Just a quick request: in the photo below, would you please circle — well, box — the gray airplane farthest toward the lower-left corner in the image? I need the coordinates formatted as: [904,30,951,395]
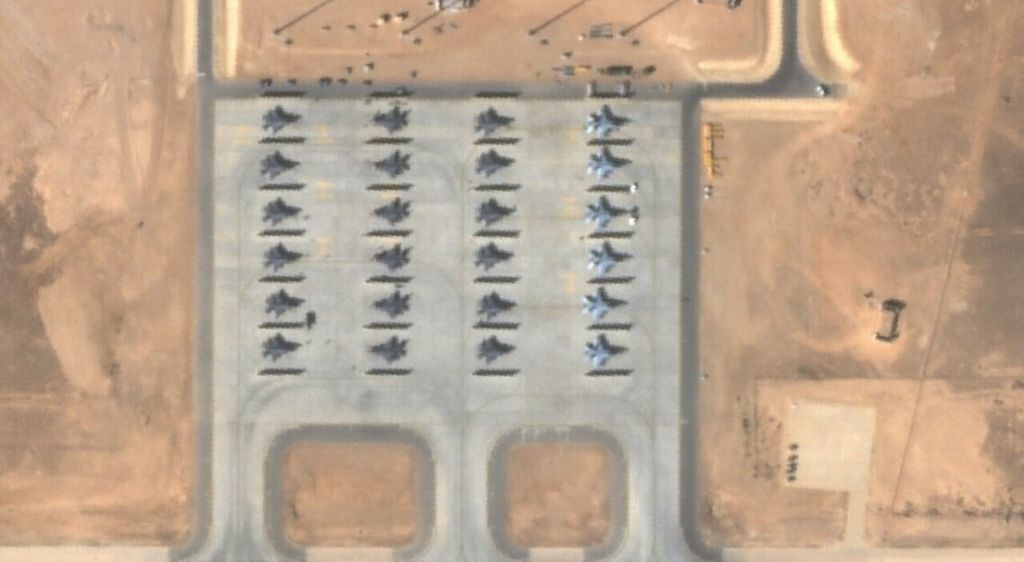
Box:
[263,336,298,360]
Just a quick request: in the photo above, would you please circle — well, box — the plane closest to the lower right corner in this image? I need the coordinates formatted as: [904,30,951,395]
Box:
[584,340,623,366]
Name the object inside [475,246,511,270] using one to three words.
airplane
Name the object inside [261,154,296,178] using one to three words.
airplane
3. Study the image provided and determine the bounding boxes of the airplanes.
[586,151,625,177]
[585,110,625,136]
[475,246,511,270]
[370,293,406,317]
[261,154,296,178]
[476,153,512,177]
[478,339,513,363]
[587,247,627,273]
[371,247,406,271]
[263,109,298,133]
[475,201,510,225]
[266,293,302,317]
[475,110,510,134]
[478,294,513,318]
[585,201,623,227]
[370,109,405,132]
[264,247,300,270]
[370,202,406,225]
[368,338,404,361]
[584,340,623,366]
[263,336,298,360]
[263,201,299,225]
[371,154,406,178]
[582,292,622,318]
